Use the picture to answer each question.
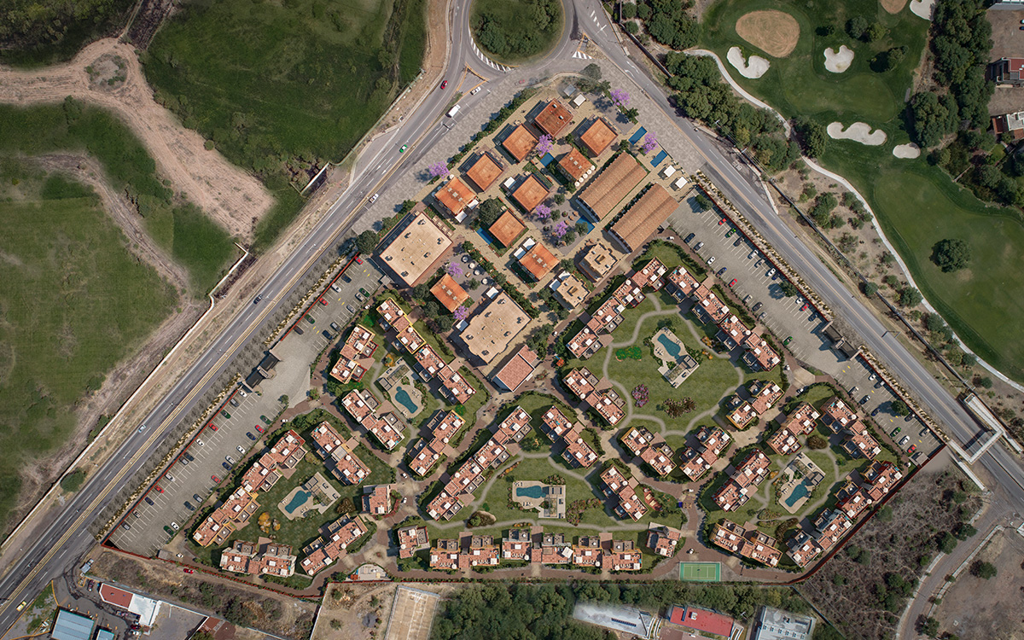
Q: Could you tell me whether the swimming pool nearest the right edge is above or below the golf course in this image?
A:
below it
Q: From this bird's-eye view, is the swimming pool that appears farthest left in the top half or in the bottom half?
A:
bottom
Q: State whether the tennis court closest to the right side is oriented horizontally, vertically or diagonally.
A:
horizontally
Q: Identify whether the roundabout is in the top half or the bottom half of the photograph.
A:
top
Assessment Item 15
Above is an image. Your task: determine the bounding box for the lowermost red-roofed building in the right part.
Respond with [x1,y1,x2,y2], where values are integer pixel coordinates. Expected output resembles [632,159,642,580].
[668,602,735,638]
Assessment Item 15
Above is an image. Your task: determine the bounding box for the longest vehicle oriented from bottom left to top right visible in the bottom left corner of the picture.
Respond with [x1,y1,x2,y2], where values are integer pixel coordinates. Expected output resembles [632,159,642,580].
[79,559,94,575]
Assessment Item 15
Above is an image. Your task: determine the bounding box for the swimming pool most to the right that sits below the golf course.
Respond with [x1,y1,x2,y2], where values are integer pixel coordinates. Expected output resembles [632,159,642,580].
[776,452,824,516]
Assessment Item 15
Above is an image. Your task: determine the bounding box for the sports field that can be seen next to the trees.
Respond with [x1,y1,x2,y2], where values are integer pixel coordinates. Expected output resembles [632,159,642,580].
[384,586,437,640]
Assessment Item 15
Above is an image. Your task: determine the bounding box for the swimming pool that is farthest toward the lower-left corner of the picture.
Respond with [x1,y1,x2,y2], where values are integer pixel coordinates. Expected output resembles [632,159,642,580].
[274,470,333,525]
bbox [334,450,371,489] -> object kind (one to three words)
house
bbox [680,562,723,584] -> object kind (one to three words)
tennis court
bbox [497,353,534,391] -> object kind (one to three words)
building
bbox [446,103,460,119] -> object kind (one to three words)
vehicle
